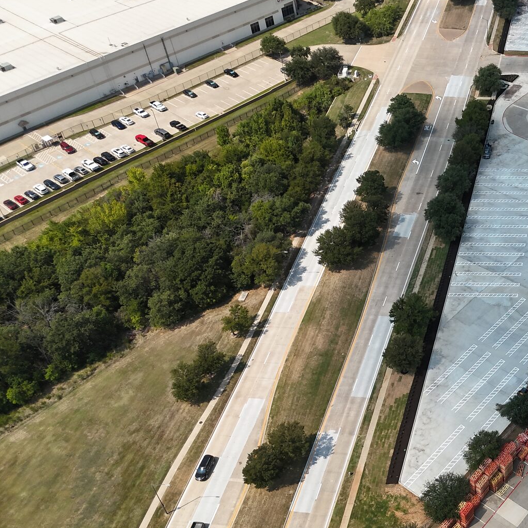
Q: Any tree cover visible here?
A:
Yes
